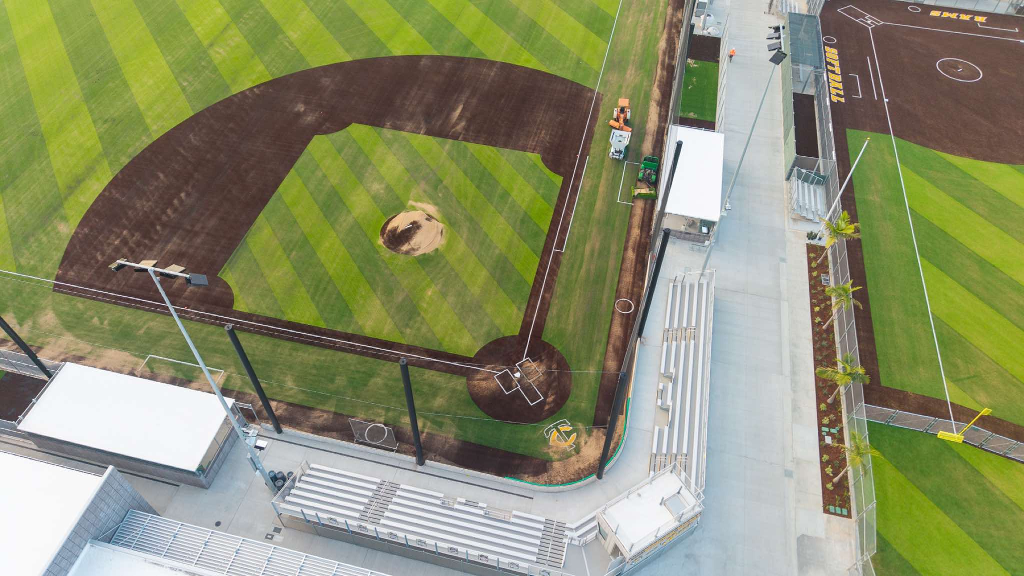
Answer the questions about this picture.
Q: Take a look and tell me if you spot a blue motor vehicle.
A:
No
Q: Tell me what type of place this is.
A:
sports ground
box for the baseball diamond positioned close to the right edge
[809,0,1024,467]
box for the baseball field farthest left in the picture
[0,0,685,483]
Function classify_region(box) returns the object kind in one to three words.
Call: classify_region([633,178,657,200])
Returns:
vehicle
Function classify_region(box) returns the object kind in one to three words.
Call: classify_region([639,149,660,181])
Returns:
vehicle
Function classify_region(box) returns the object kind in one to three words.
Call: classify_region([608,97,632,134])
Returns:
work vehicle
